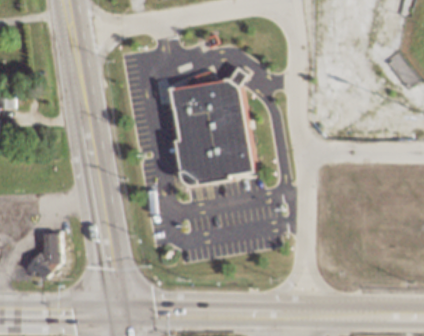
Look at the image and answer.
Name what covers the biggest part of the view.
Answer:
paved ground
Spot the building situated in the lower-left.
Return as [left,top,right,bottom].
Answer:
[29,232,64,277]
